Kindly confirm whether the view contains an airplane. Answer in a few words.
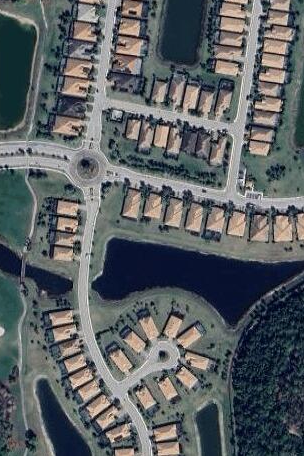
No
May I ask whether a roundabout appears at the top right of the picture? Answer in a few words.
No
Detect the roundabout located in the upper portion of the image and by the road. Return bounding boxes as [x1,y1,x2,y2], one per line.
[67,147,108,187]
